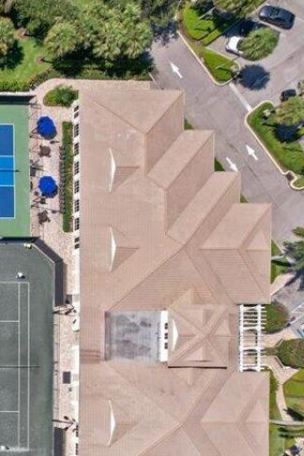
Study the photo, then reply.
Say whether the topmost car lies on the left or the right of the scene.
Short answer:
right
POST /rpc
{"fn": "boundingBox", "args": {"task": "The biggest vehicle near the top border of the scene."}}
[258,5,299,28]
